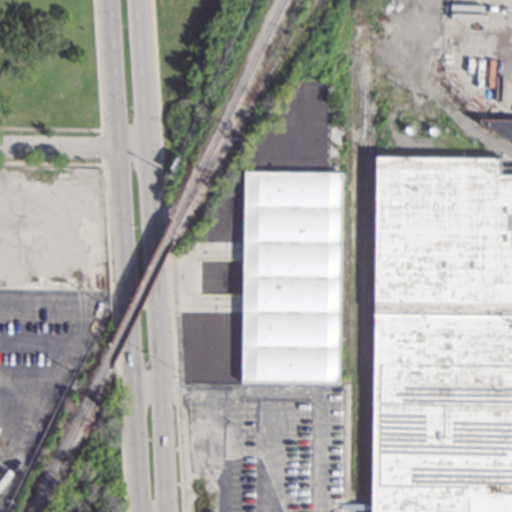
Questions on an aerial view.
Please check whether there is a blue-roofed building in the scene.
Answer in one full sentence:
No, I can't see a single blue-roofed building in this photo.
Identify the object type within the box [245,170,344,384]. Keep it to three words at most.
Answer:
building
